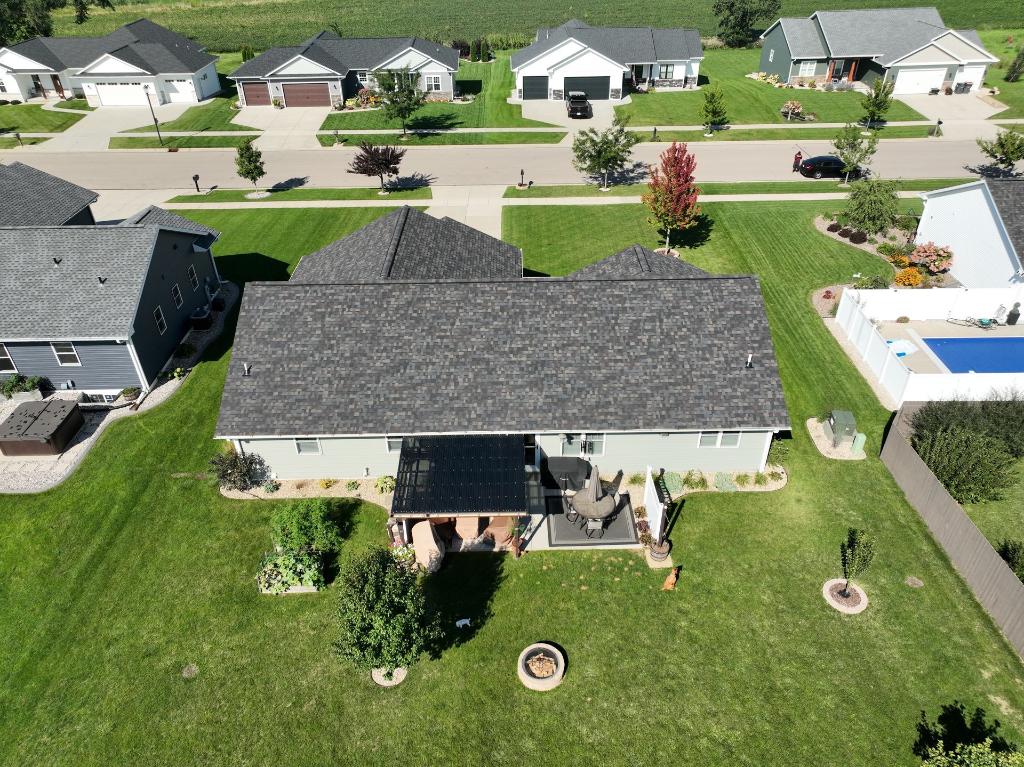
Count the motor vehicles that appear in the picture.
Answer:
2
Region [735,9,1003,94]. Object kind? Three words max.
building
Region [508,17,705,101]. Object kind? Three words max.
house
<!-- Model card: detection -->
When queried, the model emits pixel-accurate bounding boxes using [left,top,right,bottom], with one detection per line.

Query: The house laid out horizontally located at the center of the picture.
[214,204,792,493]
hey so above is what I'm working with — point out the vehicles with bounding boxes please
[564,89,591,116]
[798,153,870,179]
